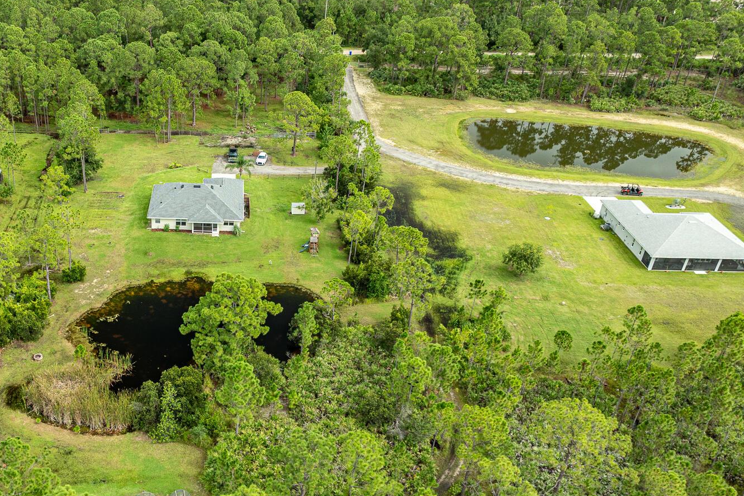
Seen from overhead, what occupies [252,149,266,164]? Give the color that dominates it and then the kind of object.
white vehicle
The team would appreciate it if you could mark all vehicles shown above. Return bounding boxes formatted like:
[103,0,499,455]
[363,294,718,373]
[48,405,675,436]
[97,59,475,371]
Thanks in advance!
[227,146,239,162]
[621,180,645,193]
[252,149,266,164]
